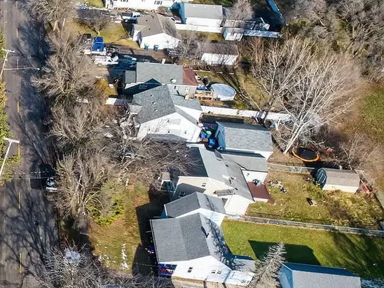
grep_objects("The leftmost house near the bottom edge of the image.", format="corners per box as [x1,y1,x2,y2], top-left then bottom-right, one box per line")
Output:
[138,209,261,285]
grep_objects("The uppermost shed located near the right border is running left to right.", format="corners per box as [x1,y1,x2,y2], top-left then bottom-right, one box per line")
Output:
[314,165,369,194]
